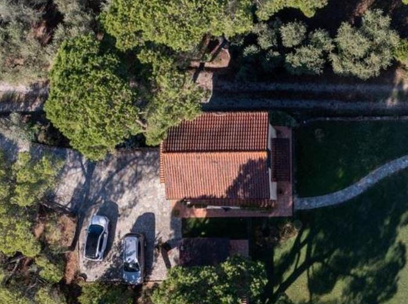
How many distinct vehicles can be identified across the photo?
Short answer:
2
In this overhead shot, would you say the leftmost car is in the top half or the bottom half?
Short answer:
bottom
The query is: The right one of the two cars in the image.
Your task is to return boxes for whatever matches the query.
[119,234,144,283]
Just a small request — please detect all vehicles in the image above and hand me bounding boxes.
[84,216,110,260]
[119,234,144,283]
